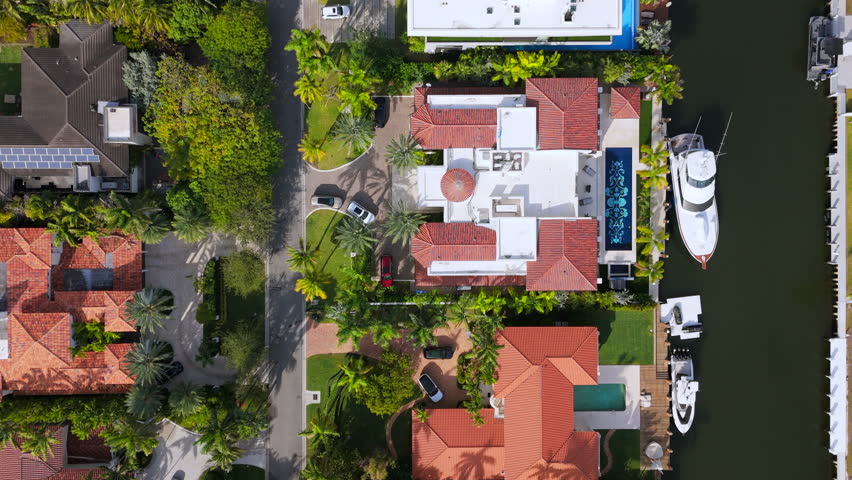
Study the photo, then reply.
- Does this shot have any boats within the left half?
No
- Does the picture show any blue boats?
No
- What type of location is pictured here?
residential area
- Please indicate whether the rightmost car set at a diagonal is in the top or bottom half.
bottom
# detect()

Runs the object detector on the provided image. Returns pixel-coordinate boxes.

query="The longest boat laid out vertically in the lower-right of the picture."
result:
[672,352,699,433]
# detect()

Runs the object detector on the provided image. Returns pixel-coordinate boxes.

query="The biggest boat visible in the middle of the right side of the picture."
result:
[671,112,726,265]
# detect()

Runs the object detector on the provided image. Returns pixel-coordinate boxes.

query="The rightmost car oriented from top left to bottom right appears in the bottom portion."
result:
[418,373,443,401]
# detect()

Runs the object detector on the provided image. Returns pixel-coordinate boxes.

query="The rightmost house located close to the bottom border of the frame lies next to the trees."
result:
[412,328,600,480]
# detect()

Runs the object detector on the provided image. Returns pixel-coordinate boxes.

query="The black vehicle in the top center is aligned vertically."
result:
[373,97,387,127]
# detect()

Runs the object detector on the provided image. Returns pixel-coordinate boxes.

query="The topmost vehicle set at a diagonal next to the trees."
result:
[347,200,375,225]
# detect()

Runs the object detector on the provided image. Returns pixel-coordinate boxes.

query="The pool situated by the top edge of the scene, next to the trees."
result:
[503,0,638,52]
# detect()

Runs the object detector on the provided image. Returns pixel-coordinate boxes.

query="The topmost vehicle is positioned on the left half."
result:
[320,5,349,21]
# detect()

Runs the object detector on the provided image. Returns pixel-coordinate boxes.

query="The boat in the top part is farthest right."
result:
[805,15,842,91]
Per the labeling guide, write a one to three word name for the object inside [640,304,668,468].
pier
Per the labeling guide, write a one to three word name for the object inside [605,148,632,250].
swimming pool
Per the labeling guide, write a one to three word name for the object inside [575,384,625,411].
swimming pool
